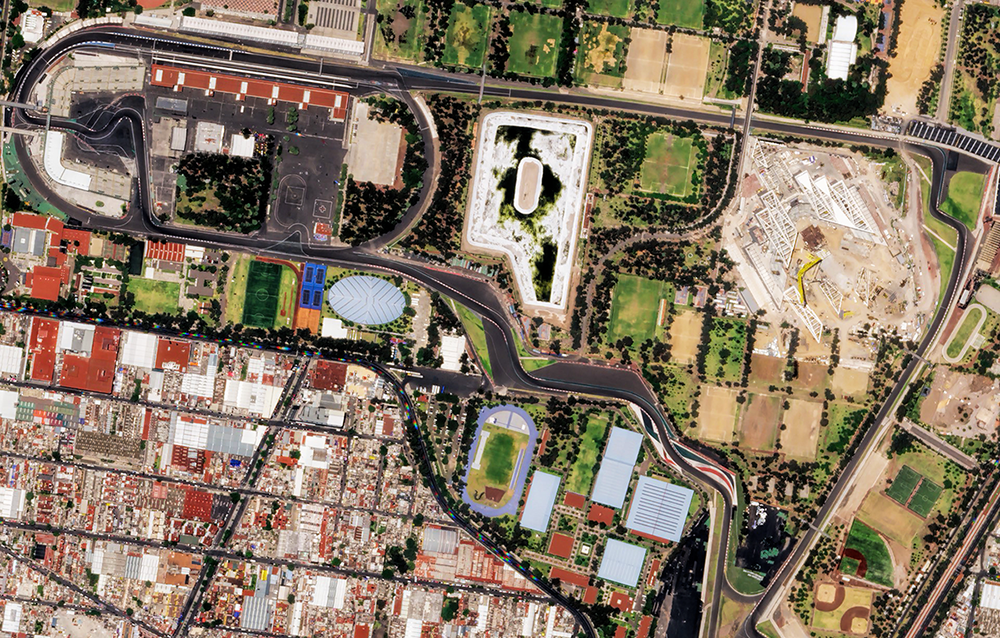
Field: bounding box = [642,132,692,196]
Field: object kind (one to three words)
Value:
soccer field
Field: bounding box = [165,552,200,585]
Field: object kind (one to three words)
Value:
building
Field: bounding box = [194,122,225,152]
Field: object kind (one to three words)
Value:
shed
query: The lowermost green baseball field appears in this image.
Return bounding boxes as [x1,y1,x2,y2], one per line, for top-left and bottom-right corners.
[839,517,899,589]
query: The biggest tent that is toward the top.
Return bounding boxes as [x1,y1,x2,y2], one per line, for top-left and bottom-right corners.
[230,134,255,157]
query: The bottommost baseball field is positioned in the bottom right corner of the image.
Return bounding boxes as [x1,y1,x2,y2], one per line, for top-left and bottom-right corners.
[811,581,874,636]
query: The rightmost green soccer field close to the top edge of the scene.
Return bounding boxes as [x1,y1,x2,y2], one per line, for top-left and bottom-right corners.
[657,0,704,28]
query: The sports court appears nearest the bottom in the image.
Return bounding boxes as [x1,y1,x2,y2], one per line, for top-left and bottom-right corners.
[549,532,574,558]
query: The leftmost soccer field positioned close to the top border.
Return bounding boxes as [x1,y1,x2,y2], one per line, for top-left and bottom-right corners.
[441,3,490,66]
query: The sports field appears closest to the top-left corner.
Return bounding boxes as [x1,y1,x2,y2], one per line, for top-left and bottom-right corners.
[129,278,180,313]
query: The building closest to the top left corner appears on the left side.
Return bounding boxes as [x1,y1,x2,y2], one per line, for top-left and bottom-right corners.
[20,8,48,42]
